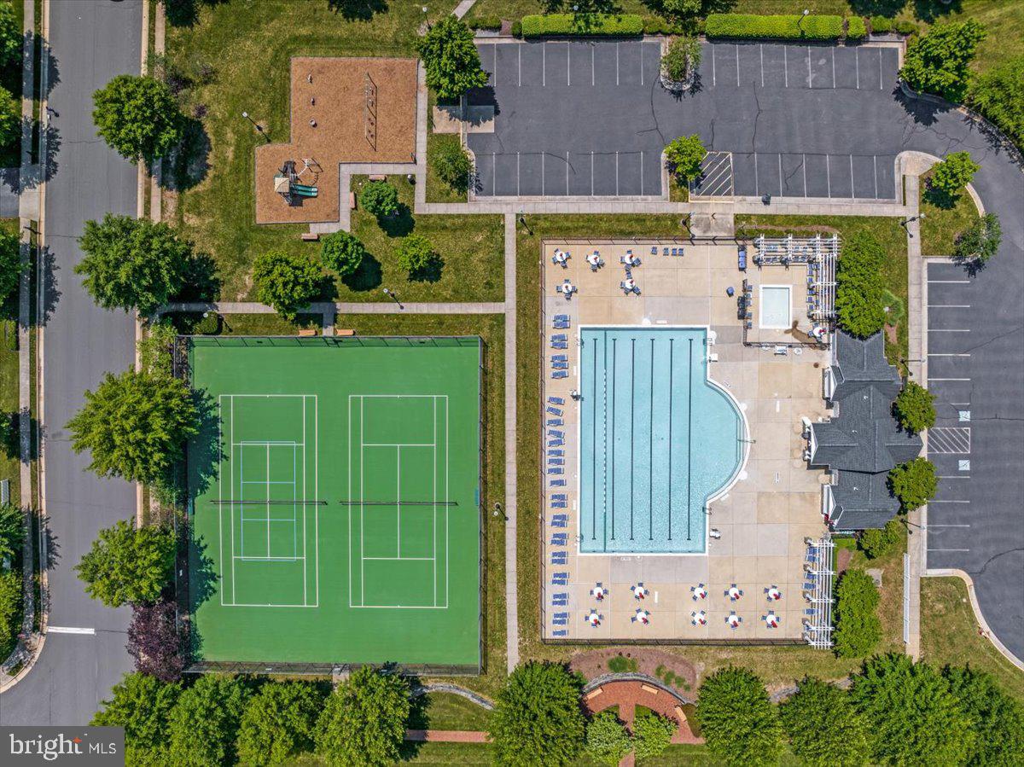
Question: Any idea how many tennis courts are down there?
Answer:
2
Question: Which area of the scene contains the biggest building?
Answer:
right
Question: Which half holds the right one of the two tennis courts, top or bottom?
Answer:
bottom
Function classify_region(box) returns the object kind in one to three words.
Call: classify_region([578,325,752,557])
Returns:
swimming pool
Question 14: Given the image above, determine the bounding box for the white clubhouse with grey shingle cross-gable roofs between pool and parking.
[803,328,928,530]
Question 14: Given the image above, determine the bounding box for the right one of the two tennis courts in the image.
[333,338,481,664]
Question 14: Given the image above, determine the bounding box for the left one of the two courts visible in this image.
[189,338,333,664]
